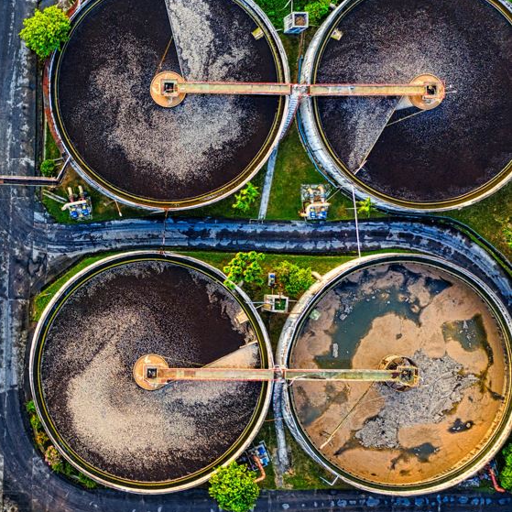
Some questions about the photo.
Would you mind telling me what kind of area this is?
industrial area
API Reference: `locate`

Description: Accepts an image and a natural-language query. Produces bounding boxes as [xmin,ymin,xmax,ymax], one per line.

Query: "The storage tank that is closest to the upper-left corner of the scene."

[40,0,296,210]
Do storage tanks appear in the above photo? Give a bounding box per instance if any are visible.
[290,0,512,212]
[40,0,296,210]
[28,248,278,495]
[271,250,512,496]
